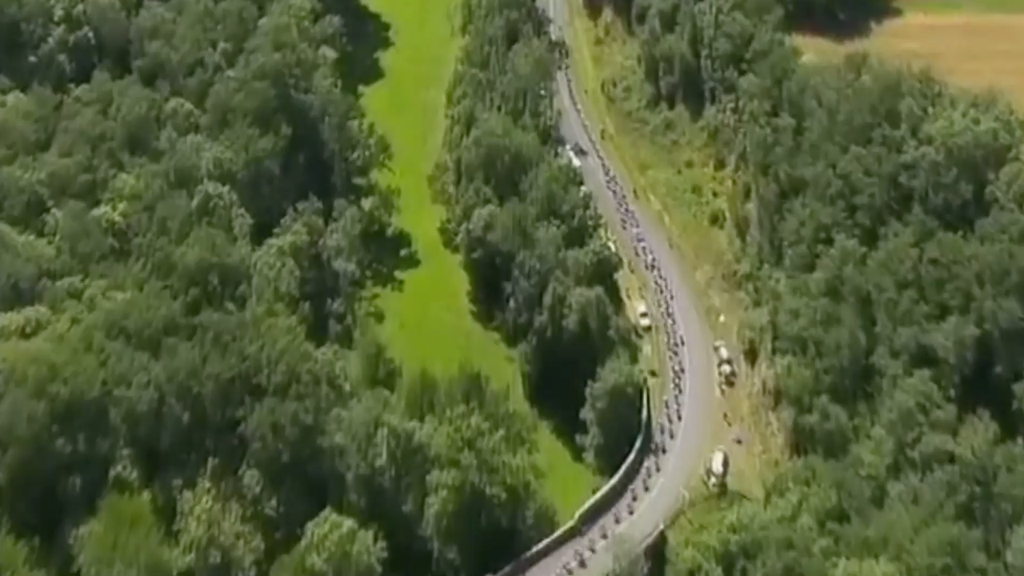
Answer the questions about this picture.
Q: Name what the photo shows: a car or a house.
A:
car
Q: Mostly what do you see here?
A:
trees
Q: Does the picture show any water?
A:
No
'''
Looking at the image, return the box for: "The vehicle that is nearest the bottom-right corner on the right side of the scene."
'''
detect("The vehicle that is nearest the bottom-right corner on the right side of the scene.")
[708,449,729,488]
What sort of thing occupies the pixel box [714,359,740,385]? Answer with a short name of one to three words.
car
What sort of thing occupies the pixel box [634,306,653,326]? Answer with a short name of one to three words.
car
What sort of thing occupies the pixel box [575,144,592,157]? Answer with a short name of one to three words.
vehicle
